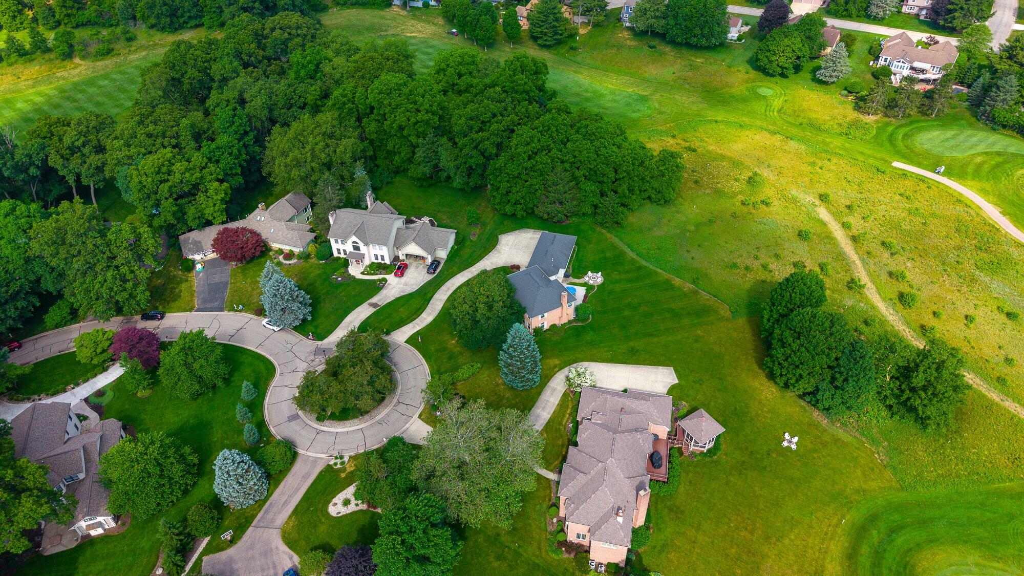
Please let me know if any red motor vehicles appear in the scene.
Yes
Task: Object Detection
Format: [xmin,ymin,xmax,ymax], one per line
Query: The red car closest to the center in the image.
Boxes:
[392,260,409,276]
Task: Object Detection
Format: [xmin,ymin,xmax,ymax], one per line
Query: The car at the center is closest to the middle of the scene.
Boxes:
[424,258,442,274]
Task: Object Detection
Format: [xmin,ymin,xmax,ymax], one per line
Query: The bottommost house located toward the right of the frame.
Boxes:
[558,386,675,563]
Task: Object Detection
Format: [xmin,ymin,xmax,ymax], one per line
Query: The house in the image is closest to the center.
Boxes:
[503,231,578,329]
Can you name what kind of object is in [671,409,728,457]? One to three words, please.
gazebo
